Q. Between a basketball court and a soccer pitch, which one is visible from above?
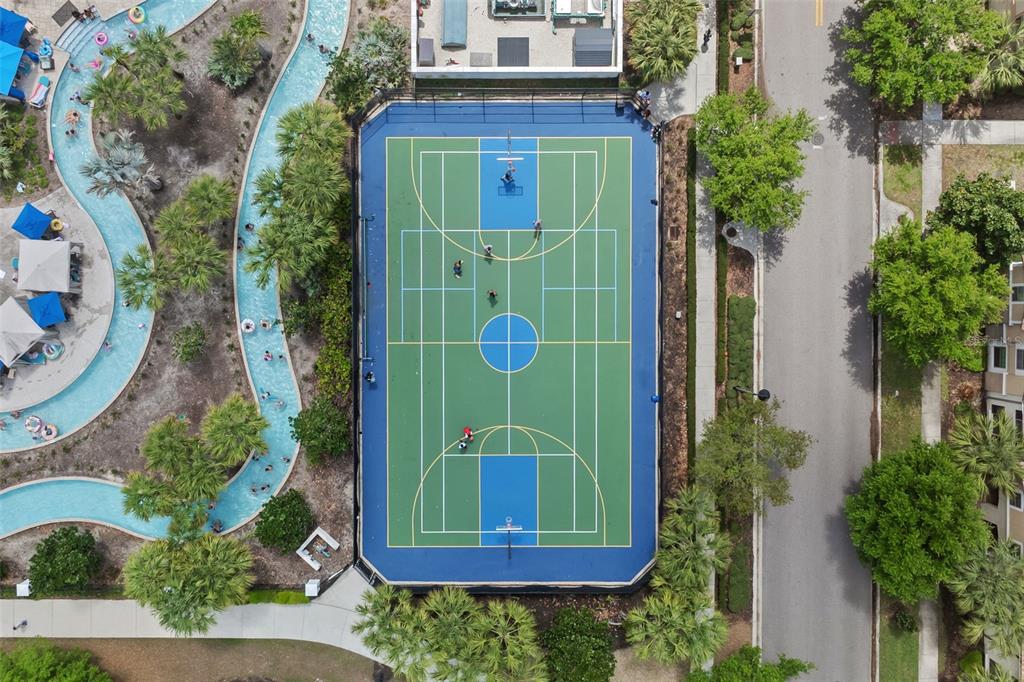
basketball court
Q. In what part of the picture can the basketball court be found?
center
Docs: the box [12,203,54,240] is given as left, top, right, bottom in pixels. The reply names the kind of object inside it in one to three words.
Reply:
umbrella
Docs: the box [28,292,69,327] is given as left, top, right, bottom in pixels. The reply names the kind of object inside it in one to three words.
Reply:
umbrella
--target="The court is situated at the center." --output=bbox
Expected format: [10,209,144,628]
[360,100,658,583]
